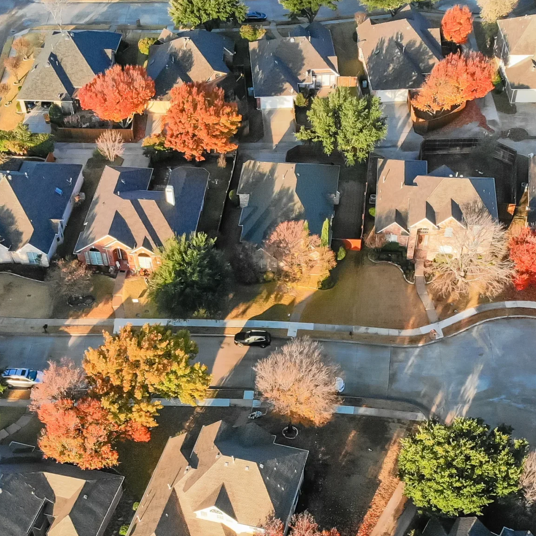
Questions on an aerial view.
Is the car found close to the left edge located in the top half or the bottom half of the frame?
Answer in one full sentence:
It is in the bottom half that the car found close to the left edge appears.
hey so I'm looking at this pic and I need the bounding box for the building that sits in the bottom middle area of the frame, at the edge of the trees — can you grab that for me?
[125,408,311,536]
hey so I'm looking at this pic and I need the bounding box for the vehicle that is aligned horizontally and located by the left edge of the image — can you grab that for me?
[1,367,44,389]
